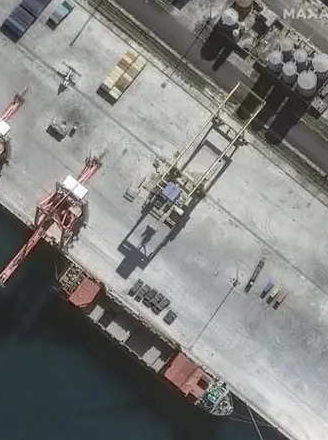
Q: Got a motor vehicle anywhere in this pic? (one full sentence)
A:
Yes, there's a motor vehicle here.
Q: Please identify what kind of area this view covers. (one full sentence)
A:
This image shows a port.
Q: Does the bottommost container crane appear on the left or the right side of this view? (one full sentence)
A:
It is on the left.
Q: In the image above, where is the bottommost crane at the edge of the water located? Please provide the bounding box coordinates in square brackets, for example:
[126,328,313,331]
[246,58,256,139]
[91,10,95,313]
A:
[0,158,110,292]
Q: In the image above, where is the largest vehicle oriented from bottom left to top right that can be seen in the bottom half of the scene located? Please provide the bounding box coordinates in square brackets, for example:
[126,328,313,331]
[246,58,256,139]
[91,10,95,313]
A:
[243,261,267,289]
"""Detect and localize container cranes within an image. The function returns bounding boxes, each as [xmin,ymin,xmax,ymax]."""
[0,94,30,167]
[137,83,266,228]
[0,158,110,292]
